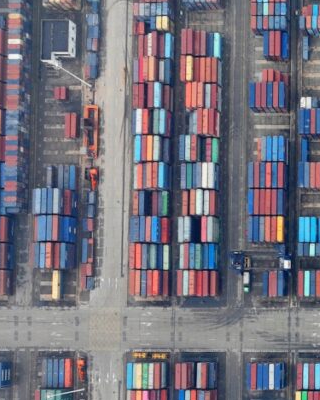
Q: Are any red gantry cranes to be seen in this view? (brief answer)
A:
No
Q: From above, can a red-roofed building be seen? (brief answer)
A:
No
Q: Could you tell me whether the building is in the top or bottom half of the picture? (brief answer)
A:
top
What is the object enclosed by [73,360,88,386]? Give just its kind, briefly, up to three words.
work vehicle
